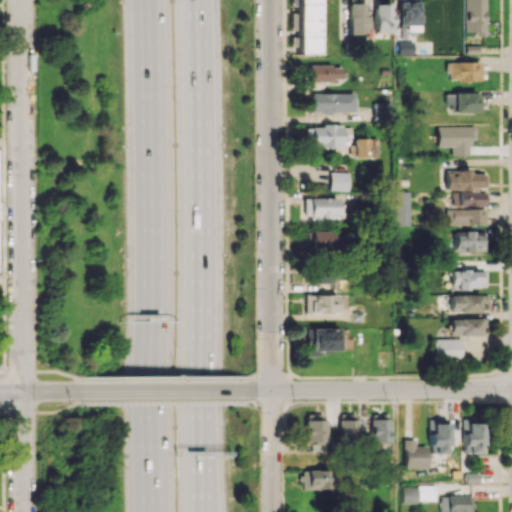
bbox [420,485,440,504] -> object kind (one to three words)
building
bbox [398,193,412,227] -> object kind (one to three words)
shed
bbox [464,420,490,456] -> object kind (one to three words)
house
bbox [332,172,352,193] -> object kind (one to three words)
building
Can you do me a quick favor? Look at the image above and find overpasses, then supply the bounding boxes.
[73,376,256,406]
